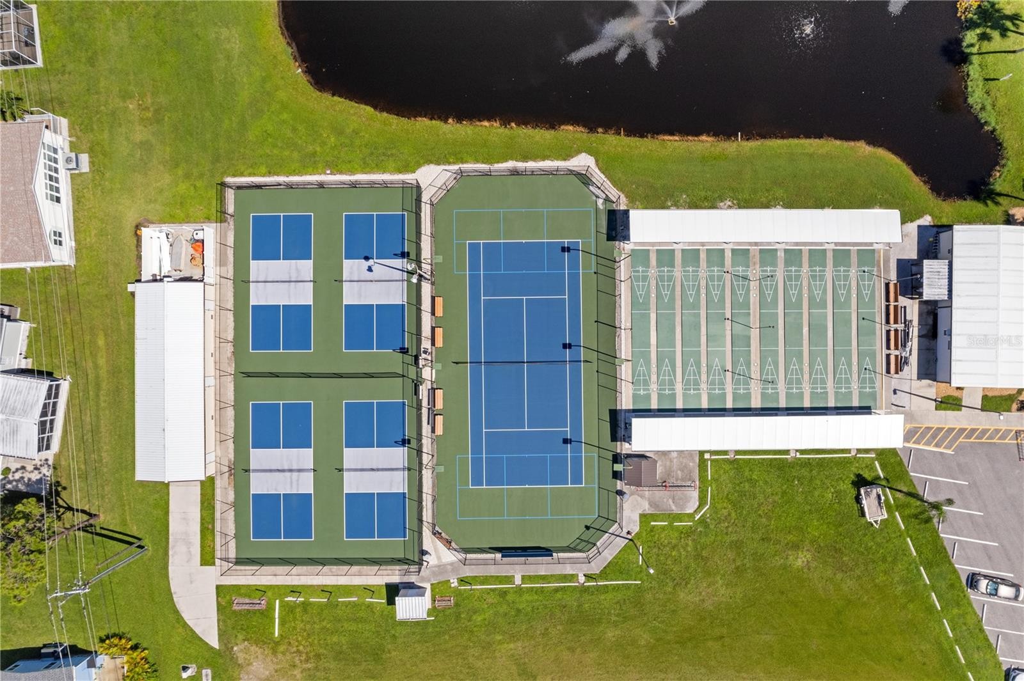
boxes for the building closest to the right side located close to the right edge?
[937,224,1024,387]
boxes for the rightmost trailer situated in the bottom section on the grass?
[862,485,893,532]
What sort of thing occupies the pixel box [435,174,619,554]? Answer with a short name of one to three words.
tennis court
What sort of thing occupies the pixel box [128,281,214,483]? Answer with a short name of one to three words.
barn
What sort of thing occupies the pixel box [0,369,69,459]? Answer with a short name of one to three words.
house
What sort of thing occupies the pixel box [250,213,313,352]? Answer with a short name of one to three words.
sports court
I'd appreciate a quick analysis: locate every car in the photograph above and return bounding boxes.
[1009,666,1024,681]
[971,572,1024,600]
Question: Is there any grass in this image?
Yes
